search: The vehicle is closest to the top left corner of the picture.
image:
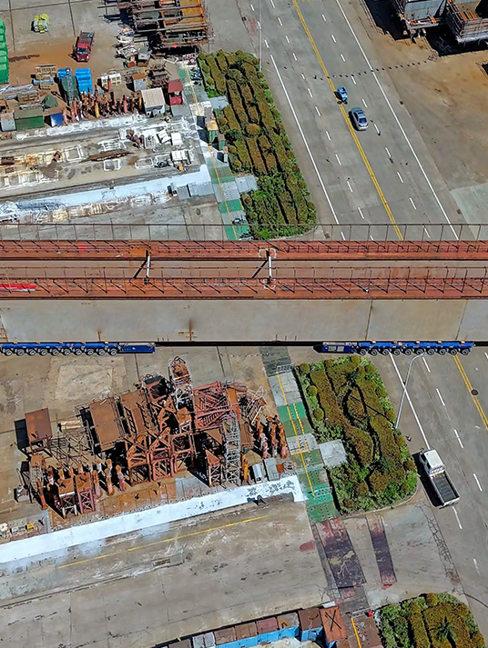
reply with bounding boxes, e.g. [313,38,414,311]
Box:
[73,31,90,56]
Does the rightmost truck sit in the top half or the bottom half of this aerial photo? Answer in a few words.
bottom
